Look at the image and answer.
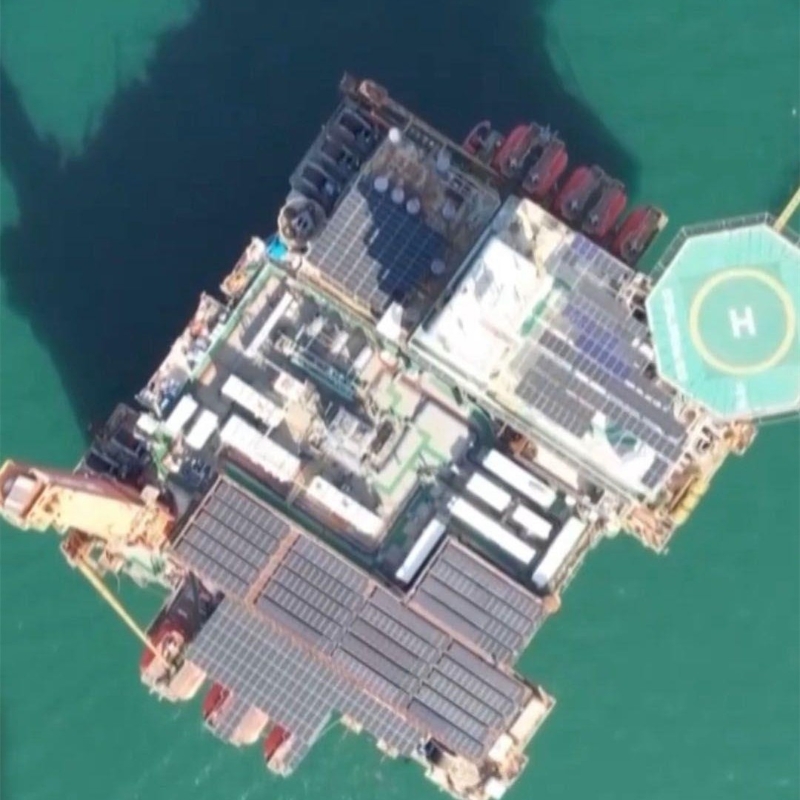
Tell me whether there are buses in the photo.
No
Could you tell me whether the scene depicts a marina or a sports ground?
marina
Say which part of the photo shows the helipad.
right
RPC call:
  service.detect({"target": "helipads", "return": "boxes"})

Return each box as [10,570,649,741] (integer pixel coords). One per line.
[638,216,800,427]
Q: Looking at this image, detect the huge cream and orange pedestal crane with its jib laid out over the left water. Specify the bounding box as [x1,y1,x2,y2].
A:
[0,461,181,550]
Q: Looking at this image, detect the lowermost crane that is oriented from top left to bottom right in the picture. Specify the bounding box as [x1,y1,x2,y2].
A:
[62,531,156,655]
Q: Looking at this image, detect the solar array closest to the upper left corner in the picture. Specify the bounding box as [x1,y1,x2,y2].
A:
[303,180,455,317]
